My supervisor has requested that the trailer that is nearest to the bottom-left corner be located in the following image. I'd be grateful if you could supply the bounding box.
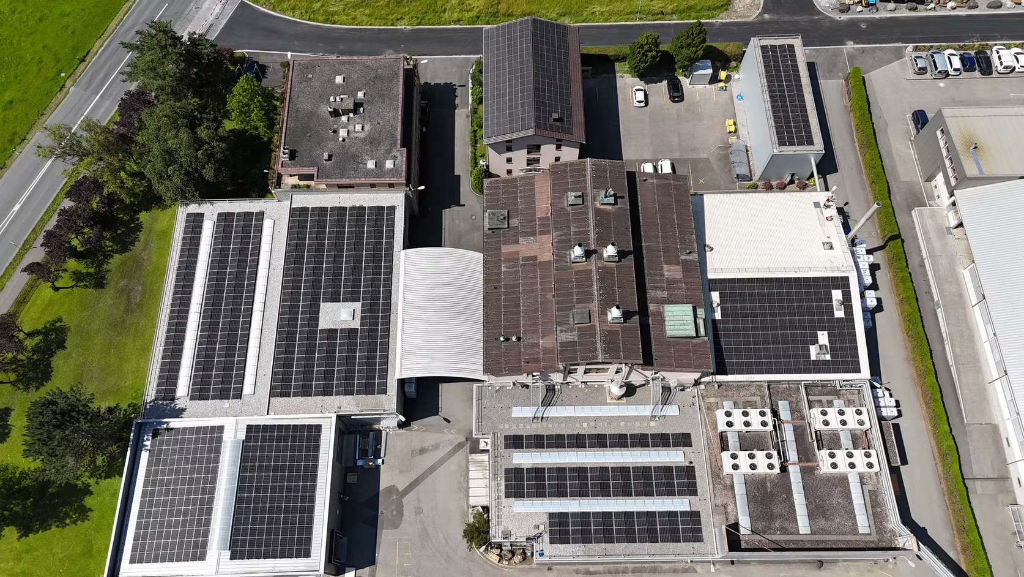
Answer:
[355,431,386,468]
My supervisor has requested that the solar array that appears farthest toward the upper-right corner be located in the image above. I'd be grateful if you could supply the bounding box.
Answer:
[761,43,814,146]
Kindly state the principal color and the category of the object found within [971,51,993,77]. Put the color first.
black car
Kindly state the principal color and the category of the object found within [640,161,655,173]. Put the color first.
white vehicle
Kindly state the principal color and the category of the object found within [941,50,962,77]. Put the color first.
white car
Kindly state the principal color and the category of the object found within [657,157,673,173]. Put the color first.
white car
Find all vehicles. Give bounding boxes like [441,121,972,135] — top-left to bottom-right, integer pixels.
[926,50,950,78]
[908,109,929,135]
[990,47,1016,74]
[632,85,646,109]
[640,161,655,173]
[941,50,962,77]
[971,51,993,77]
[1010,50,1024,74]
[245,59,259,82]
[908,53,928,76]
[657,157,673,173]
[666,76,683,104]
[858,0,871,6]
[957,52,977,75]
